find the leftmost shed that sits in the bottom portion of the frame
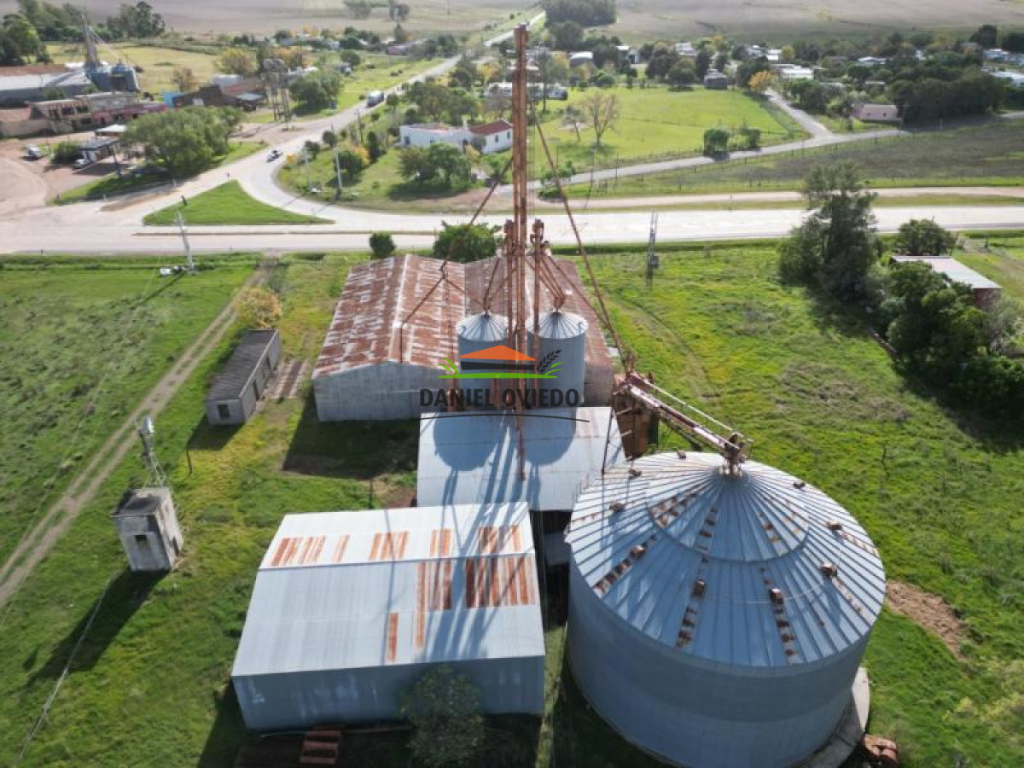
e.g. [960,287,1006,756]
[111,489,184,569]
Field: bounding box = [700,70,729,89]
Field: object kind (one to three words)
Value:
house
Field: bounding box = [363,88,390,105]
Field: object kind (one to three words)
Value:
vehicle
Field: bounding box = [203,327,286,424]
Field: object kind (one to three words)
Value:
shed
